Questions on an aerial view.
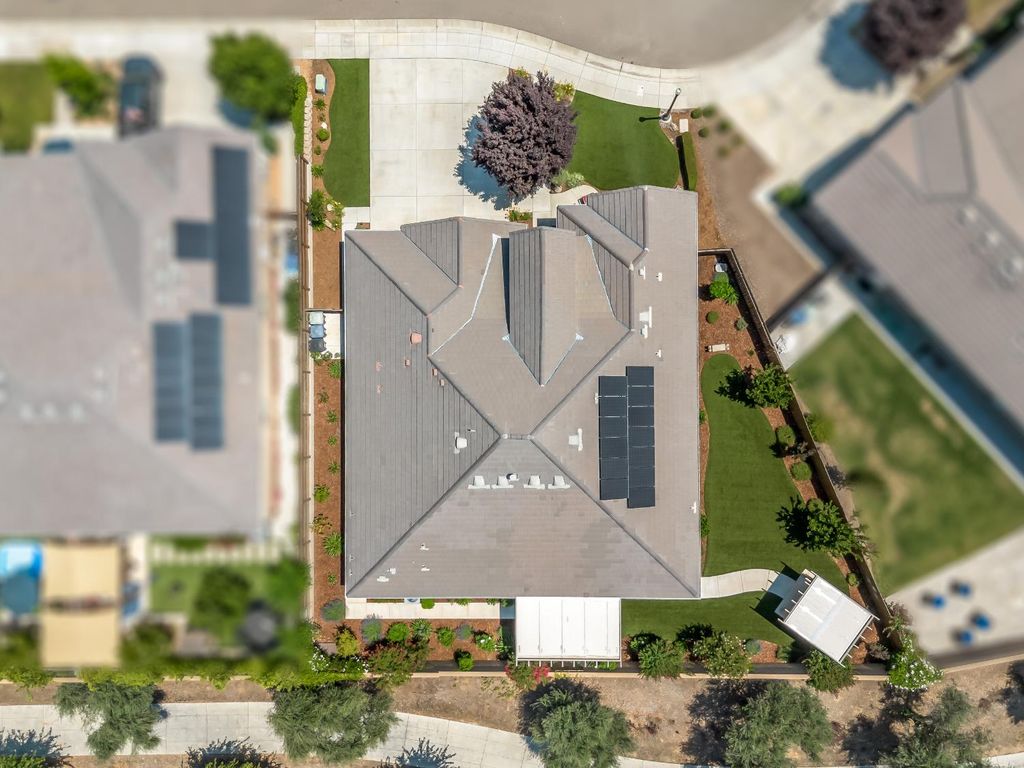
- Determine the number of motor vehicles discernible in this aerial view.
1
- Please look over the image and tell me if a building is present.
Yes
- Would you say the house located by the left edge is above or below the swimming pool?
above it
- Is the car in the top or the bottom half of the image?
top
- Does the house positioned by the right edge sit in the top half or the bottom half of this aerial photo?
top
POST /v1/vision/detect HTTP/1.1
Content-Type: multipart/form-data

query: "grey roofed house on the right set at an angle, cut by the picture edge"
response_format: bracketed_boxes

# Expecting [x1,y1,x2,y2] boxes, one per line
[806,0,1024,433]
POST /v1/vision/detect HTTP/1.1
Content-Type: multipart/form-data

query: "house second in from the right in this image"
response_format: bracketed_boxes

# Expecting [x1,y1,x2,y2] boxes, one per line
[342,185,702,599]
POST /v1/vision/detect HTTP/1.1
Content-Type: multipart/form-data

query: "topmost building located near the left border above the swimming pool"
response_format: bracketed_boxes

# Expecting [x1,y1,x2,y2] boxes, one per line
[0,126,260,537]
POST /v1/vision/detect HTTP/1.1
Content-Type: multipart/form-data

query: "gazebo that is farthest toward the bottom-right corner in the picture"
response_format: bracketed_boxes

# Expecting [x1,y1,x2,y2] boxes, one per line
[776,571,878,666]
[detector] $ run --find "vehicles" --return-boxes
[118,55,165,141]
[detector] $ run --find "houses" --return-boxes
[806,0,1024,433]
[0,126,260,537]
[342,185,702,599]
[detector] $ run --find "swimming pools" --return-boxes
[0,567,46,614]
